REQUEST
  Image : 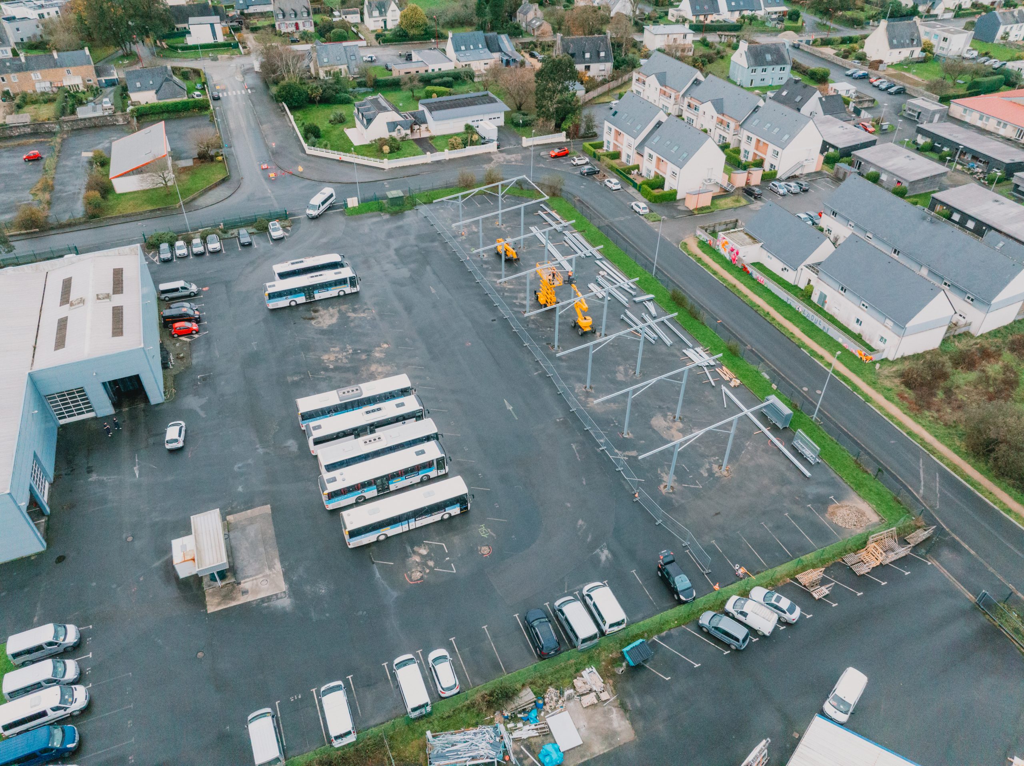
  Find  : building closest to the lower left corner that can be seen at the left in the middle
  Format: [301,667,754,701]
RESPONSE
[0,234,164,560]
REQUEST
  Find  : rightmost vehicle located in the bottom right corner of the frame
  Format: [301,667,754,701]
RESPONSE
[830,659,872,718]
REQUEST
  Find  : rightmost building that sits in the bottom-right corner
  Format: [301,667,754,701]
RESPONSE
[797,712,924,766]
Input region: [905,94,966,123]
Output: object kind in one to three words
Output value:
house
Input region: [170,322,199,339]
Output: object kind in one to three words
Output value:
car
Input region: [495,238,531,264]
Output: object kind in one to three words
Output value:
work vehicle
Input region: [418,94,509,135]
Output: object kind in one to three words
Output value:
building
